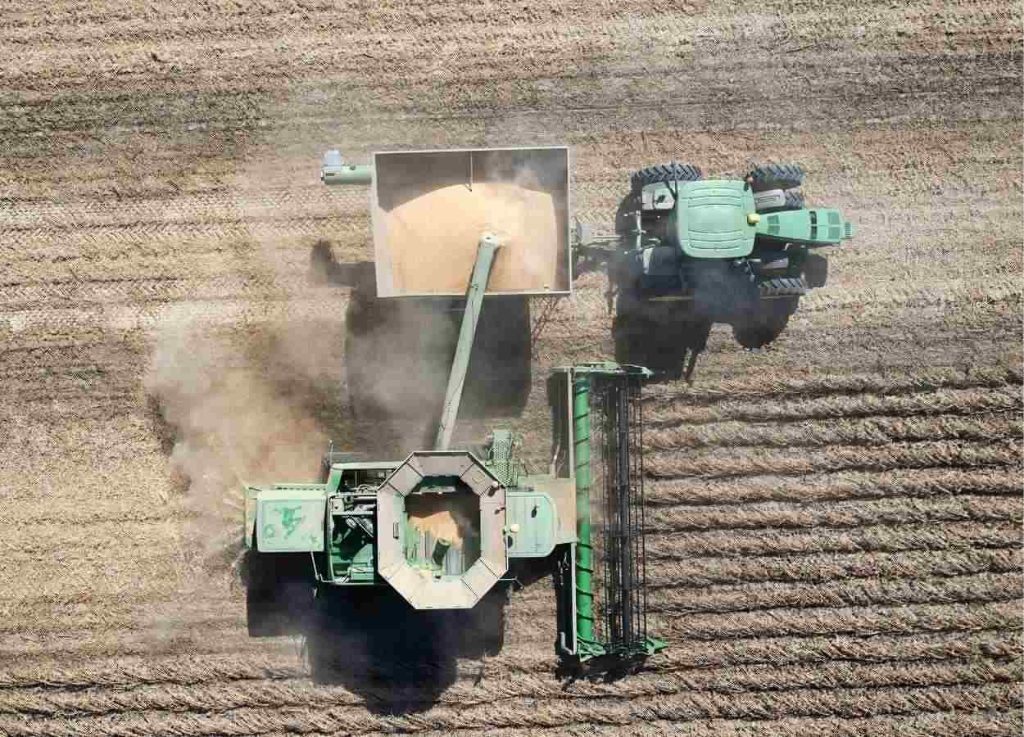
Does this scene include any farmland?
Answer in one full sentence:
Yes, there's farmland in this view.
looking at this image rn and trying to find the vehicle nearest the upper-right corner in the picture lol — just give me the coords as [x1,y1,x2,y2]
[616,157,855,305]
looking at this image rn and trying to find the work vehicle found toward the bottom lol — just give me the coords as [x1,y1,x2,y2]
[249,232,660,658]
